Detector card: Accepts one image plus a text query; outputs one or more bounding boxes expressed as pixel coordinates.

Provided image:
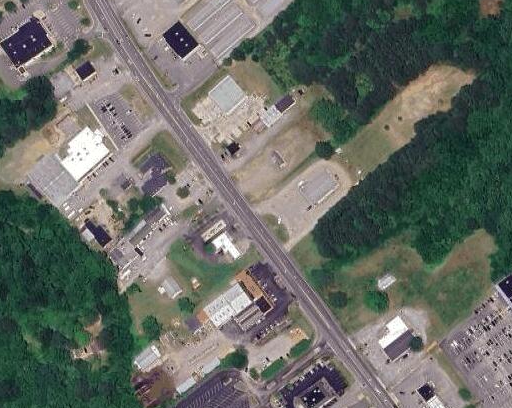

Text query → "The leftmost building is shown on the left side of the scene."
[0,11,54,75]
